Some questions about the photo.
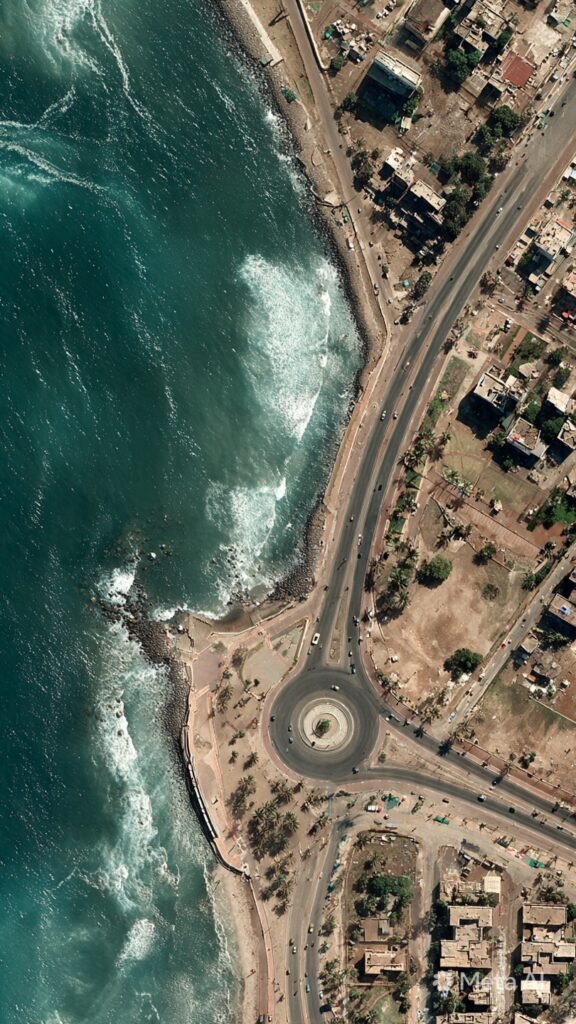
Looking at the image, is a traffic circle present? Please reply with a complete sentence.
Yes, I can see a traffic circle in this picture.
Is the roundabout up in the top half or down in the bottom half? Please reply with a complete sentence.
Seen from above, the roundabout lies in the bottom half of the view.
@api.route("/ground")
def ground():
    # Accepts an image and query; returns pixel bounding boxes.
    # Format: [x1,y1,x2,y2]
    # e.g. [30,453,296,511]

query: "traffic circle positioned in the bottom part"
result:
[269,667,383,782]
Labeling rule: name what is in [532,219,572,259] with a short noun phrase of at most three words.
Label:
house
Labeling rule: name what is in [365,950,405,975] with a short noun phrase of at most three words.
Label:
house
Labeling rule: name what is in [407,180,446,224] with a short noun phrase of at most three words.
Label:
building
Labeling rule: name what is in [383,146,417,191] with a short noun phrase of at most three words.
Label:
building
